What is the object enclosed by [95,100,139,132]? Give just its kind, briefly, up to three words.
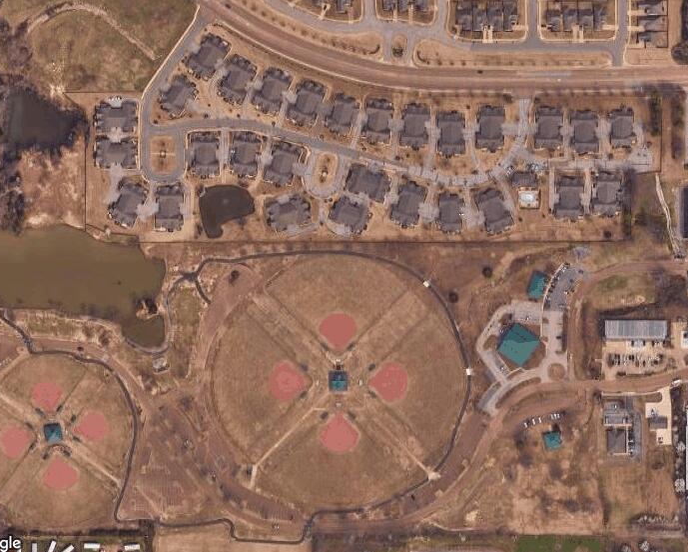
building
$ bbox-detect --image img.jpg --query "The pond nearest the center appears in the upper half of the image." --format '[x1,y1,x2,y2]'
[200,185,254,236]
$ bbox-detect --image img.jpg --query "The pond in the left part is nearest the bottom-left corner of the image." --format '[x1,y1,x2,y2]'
[0,226,165,348]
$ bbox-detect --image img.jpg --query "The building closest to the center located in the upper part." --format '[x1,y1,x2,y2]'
[330,194,369,236]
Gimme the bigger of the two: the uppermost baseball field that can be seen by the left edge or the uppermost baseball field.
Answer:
the uppermost baseball field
